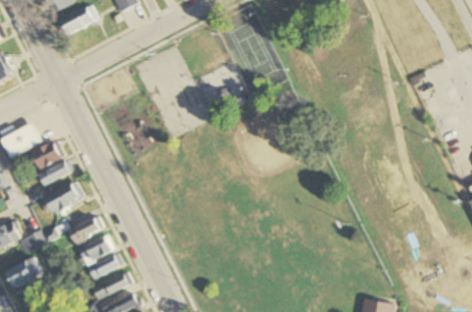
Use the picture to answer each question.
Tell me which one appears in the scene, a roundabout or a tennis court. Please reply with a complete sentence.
The one in the frame is a tennis court.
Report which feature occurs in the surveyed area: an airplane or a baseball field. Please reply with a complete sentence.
This aerial view contains a baseball field.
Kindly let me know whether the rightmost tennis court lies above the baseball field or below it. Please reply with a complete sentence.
The rightmost tennis court appears above the baseball field in the picture.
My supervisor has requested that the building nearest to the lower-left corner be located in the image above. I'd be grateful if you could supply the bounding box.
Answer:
[6,255,42,288]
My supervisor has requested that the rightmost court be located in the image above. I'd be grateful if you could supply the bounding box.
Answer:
[218,4,296,104]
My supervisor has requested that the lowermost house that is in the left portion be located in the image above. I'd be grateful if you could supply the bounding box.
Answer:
[104,292,142,312]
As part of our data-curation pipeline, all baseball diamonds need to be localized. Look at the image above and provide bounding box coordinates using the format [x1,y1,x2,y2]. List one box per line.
[231,118,304,180]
